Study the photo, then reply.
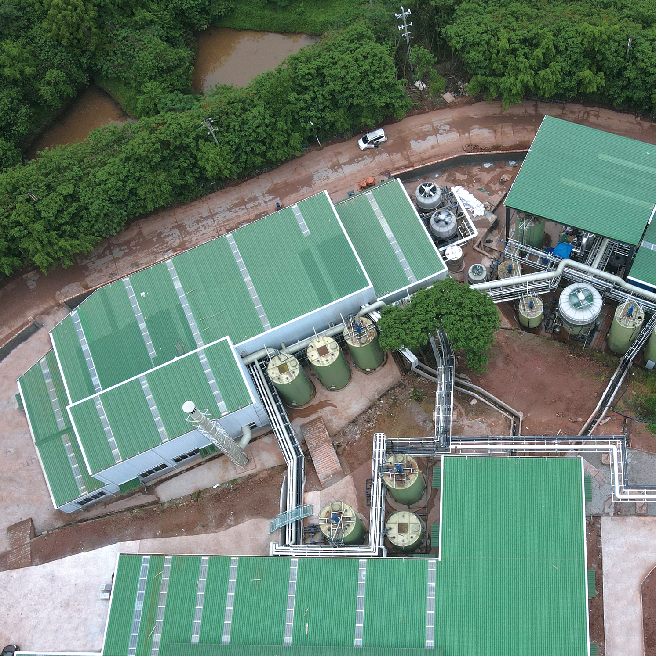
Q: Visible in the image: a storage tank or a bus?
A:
storage tank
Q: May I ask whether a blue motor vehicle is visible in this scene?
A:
No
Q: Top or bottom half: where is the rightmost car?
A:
top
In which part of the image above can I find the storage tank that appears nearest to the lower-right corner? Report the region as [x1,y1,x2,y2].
[385,512,427,558]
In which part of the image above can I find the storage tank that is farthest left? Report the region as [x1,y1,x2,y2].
[265,354,314,405]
